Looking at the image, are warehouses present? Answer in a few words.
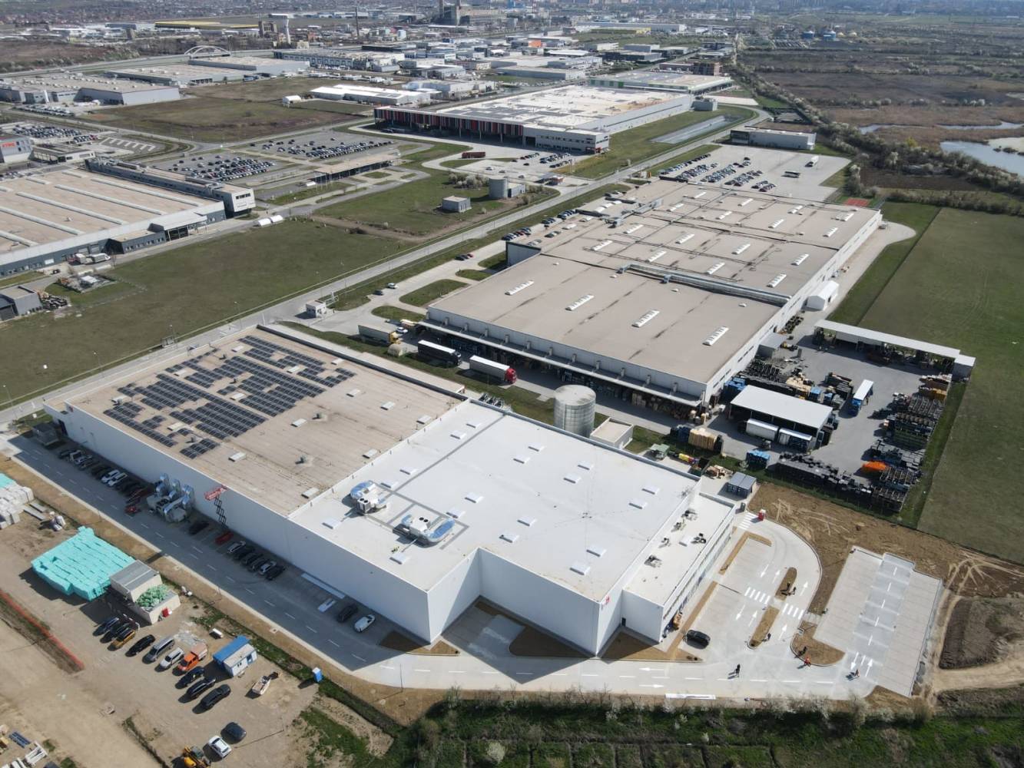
Yes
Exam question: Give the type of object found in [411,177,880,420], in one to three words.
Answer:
building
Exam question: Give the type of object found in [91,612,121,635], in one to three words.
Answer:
car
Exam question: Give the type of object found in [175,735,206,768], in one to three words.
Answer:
work vehicle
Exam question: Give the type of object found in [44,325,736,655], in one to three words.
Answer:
warehouse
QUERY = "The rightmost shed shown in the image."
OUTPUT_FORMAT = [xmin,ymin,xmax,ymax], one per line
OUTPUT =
[951,354,976,379]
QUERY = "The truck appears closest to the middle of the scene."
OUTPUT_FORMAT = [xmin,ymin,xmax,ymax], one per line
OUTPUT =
[466,357,519,385]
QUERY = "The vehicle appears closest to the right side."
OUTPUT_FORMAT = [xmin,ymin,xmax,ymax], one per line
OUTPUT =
[855,380,874,409]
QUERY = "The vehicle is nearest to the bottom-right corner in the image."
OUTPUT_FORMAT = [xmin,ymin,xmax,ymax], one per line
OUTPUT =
[683,625,713,646]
